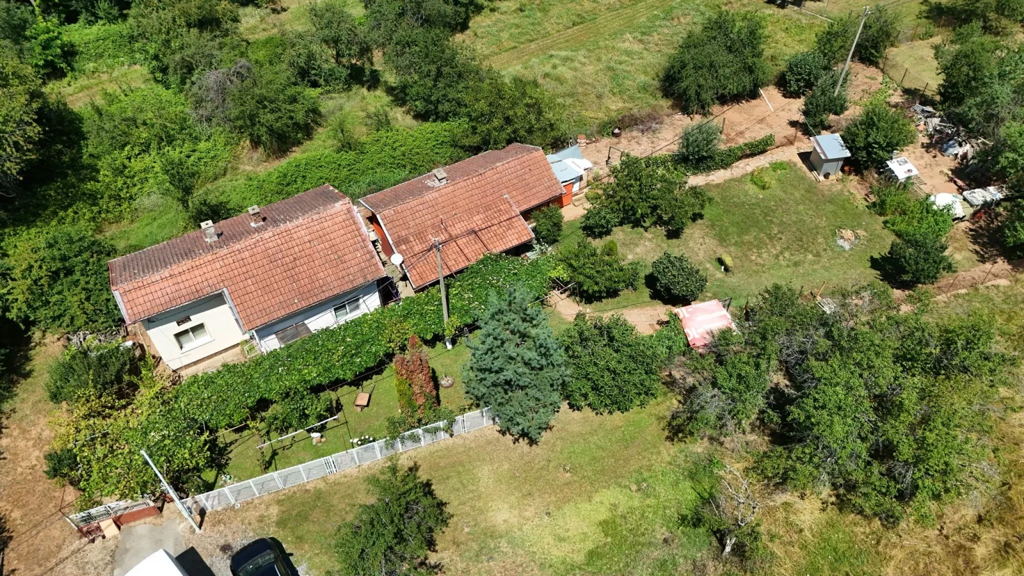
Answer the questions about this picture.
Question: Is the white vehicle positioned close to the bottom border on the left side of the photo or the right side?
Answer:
left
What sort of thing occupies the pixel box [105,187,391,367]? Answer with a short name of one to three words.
house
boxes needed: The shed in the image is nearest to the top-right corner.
[810,134,850,181]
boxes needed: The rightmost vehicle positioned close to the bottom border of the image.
[232,533,291,576]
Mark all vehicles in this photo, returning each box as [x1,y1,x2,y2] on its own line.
[232,533,291,576]
[126,553,183,576]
